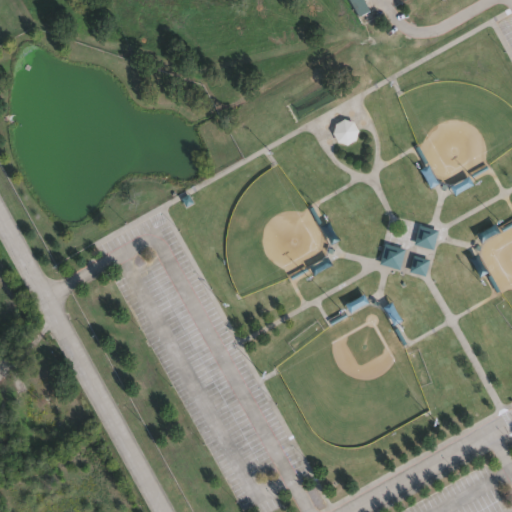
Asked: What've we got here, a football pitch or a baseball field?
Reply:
baseball field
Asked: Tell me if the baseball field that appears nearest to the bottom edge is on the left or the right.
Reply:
right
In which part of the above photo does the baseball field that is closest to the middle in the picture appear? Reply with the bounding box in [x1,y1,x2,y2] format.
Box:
[227,166,328,298]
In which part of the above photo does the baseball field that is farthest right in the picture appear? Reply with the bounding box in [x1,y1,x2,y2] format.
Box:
[481,226,512,308]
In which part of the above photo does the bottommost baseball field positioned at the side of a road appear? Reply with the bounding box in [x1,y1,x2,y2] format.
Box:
[279,303,428,446]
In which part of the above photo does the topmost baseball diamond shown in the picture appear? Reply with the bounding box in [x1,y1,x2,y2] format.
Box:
[401,81,512,186]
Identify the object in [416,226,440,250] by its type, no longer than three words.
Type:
building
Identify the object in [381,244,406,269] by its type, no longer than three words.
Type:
building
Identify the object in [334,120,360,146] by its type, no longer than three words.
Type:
gazebo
